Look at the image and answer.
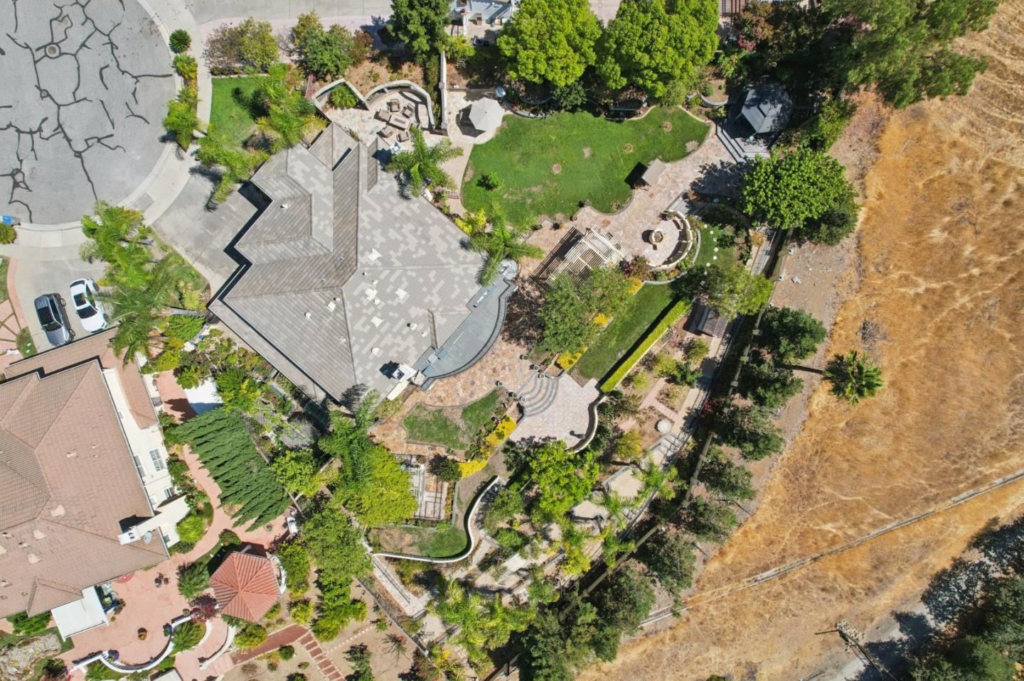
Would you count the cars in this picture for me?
2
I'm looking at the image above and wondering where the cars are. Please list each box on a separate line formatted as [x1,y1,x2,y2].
[32,292,73,348]
[69,278,107,335]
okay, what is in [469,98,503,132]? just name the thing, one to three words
umbrella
